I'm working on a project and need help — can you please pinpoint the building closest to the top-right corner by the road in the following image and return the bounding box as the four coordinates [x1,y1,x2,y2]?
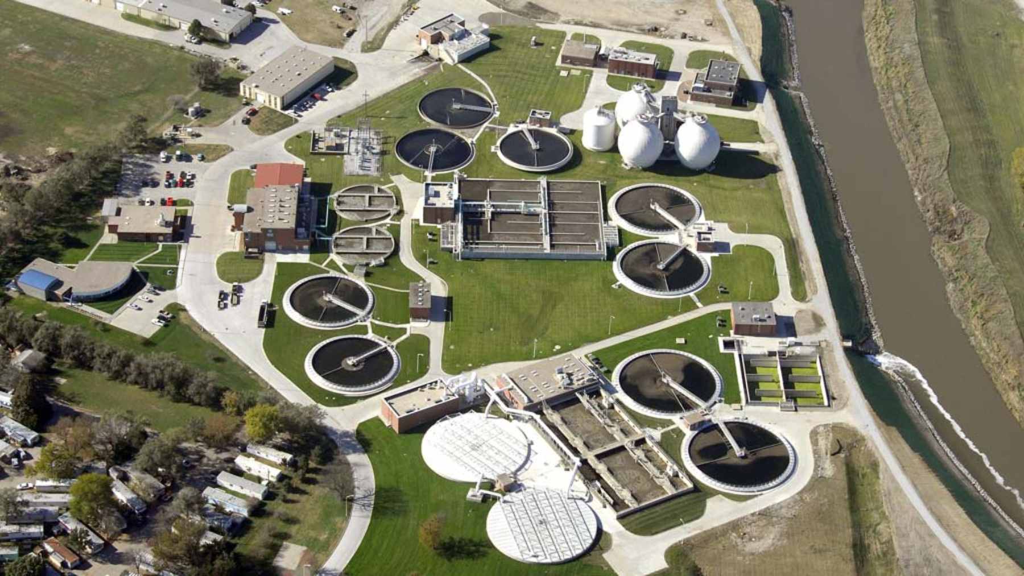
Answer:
[690,60,744,106]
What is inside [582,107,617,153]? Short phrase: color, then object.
white storage tank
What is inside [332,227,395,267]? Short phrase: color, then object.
gray storage tank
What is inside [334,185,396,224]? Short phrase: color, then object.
gray storage tank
